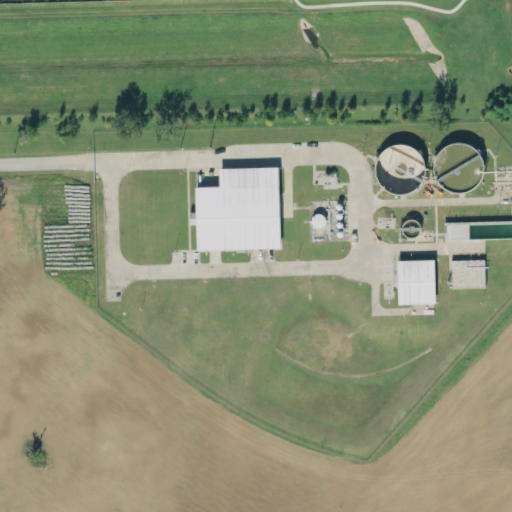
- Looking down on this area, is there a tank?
Yes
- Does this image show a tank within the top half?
Yes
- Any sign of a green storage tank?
Yes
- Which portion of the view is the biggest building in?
center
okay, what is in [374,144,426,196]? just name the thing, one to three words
storage tank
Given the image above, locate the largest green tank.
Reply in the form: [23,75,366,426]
[434,142,484,194]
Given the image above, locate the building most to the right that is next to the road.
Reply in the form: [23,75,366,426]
[398,260,436,306]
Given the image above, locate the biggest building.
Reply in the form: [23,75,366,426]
[191,168,282,252]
